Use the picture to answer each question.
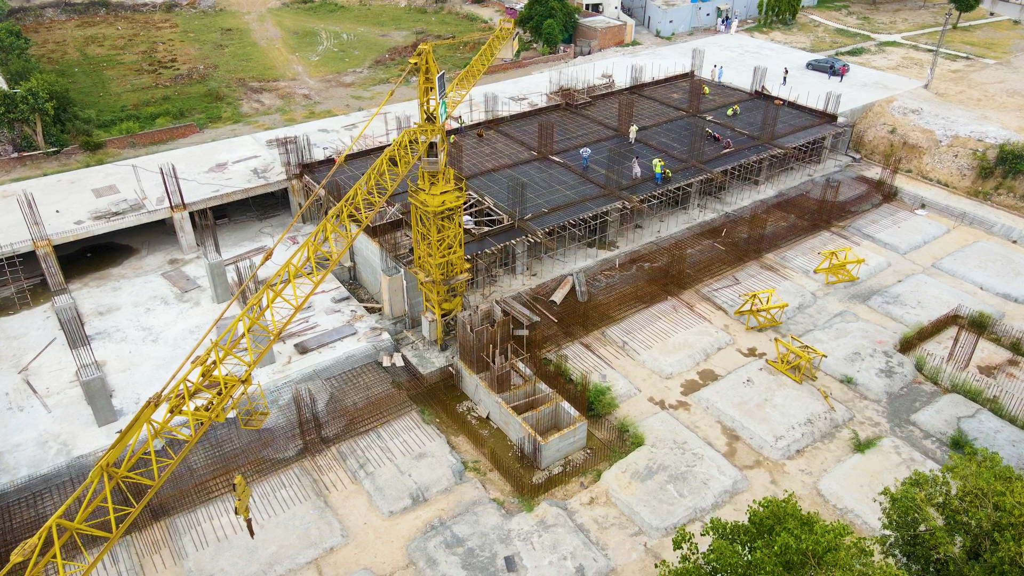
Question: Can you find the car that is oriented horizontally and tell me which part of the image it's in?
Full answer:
The car that is oriented horizontally is located in the top right region of the scene.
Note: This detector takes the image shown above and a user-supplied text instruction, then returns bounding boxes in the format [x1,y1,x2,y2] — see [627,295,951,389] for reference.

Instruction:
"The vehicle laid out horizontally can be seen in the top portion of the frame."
[806,57,852,77]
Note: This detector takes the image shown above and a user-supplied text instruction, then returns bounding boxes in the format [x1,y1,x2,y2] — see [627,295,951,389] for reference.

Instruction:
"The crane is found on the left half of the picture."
[1,4,520,576]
